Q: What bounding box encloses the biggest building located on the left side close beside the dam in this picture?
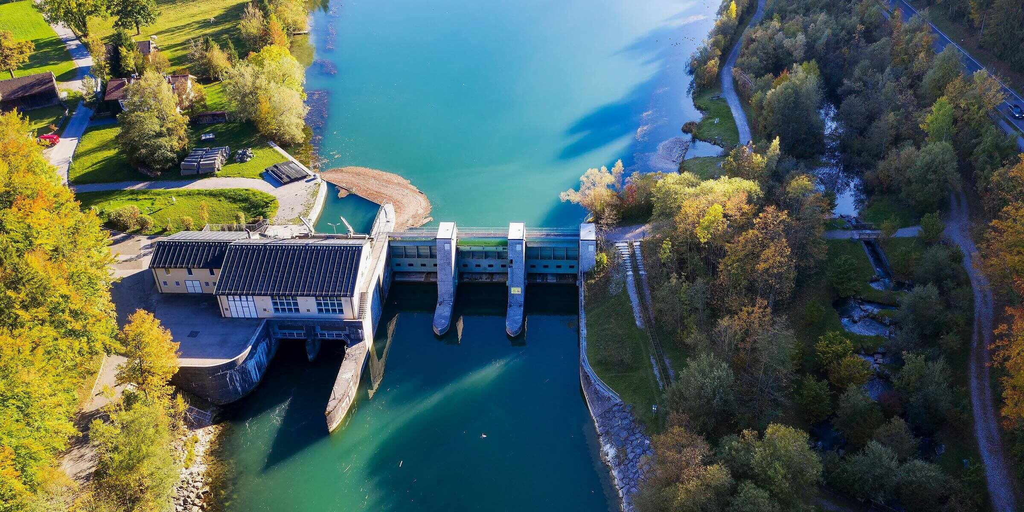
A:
[212,238,380,361]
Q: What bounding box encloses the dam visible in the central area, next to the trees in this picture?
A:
[391,219,596,337]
